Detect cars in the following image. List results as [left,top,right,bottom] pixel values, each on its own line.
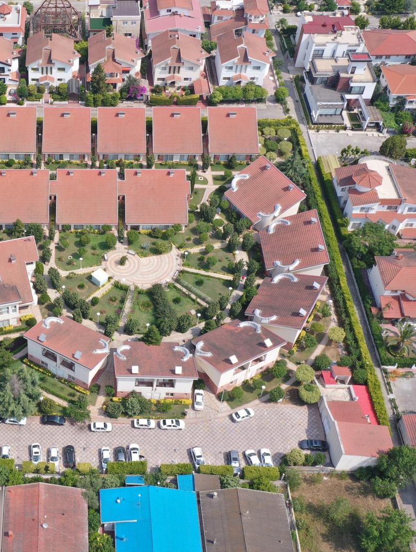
[64,445,76,470]
[230,407,256,424]
[242,446,261,465]
[89,421,114,433]
[193,388,205,412]
[99,446,112,471]
[227,449,242,474]
[29,441,42,466]
[190,446,206,472]
[48,445,60,470]
[295,10,309,17]
[41,413,66,427]
[159,417,185,430]
[132,417,158,430]
[258,446,275,465]
[299,438,328,452]
[114,442,126,461]
[3,413,28,428]
[128,440,141,461]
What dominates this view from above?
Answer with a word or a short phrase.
buildings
